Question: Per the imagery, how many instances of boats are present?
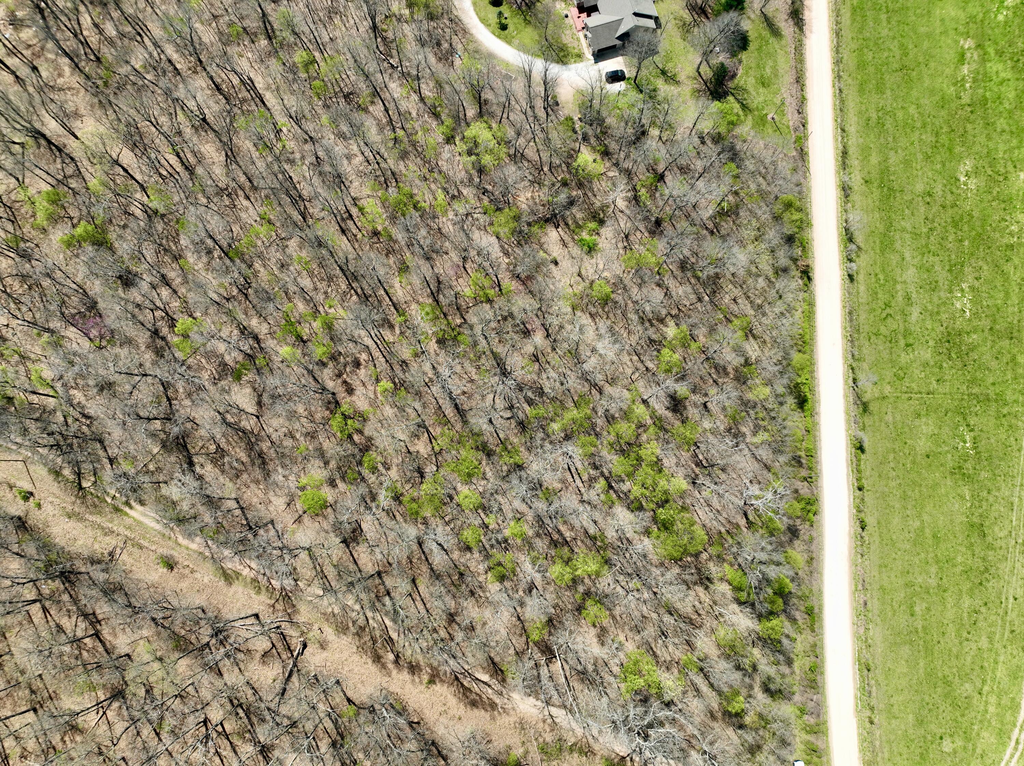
none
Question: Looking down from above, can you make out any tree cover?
Yes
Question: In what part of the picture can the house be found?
top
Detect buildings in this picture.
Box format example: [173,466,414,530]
[570,0,658,55]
